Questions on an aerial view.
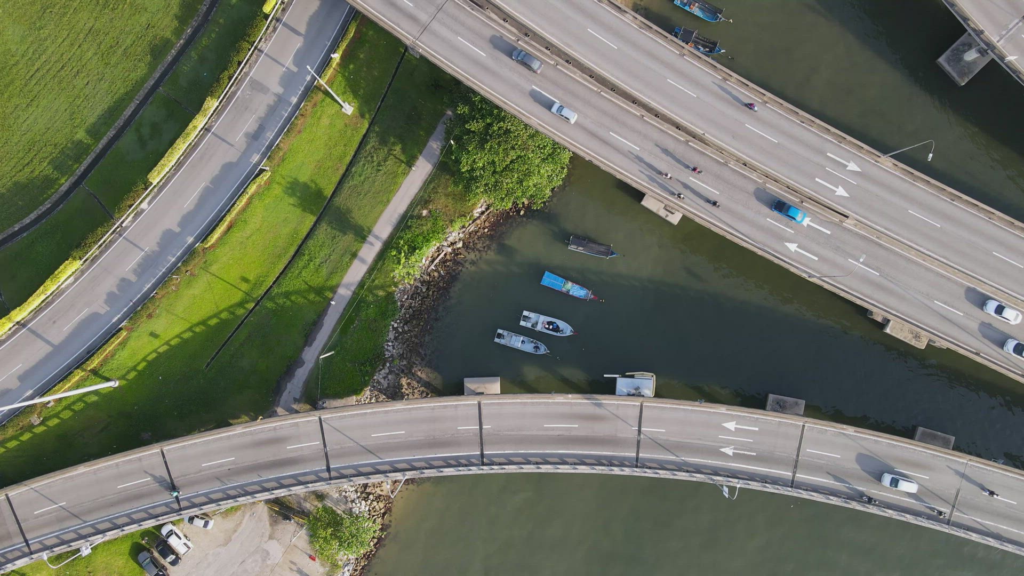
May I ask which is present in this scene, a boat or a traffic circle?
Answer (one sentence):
The one in the frame is a boat.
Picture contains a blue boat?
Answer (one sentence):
Yes, a blue boat is visible in the scene.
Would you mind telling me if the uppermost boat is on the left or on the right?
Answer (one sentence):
It is on the right.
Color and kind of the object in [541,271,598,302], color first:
blue boat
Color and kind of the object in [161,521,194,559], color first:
white truck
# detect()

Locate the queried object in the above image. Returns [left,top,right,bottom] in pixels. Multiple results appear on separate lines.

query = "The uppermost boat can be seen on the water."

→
[673,0,726,26]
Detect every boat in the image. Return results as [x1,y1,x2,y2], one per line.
[541,271,598,302]
[673,0,726,26]
[518,311,576,335]
[567,237,617,261]
[494,330,550,354]
[672,25,725,54]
